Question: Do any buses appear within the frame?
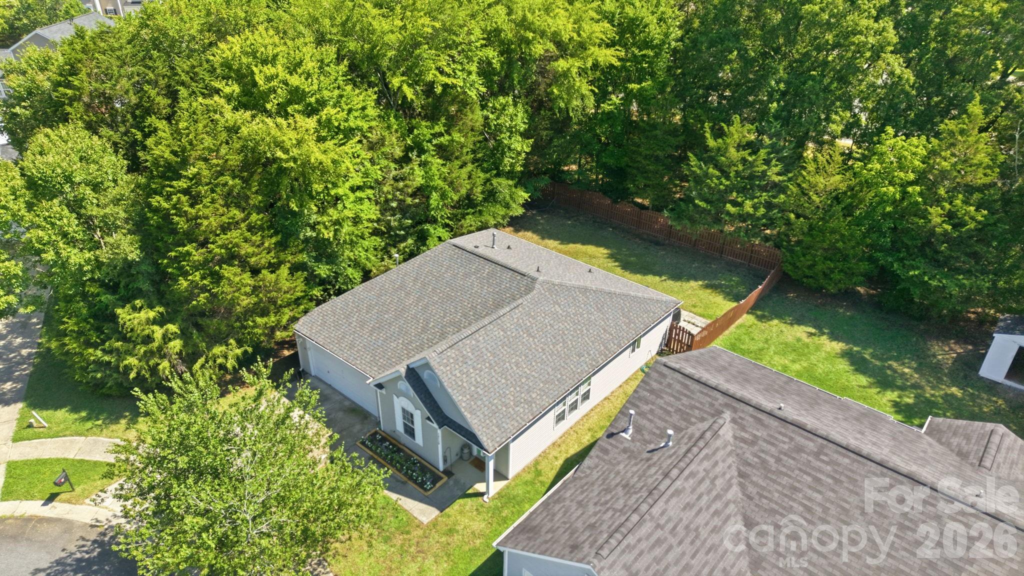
No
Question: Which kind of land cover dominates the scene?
trees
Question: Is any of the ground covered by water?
No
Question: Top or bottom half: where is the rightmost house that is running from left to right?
bottom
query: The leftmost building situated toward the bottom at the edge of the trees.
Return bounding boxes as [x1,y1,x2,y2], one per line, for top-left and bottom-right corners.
[291,228,685,503]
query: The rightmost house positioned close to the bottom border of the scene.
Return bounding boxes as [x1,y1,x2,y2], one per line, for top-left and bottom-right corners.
[490,347,1024,576]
